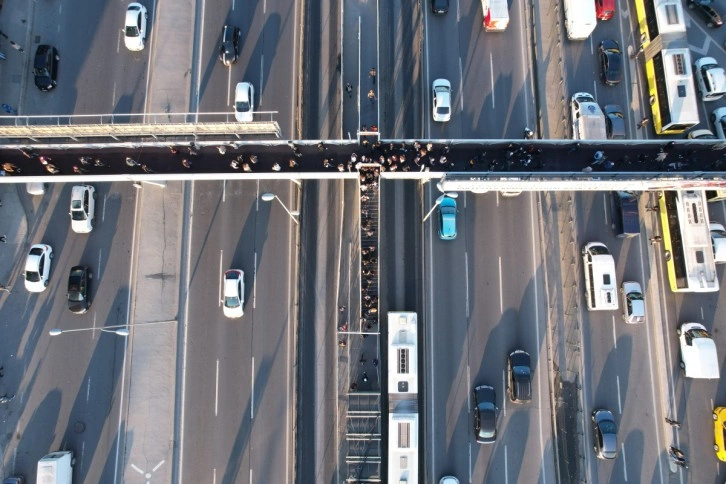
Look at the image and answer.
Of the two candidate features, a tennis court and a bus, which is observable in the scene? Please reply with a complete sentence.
Of the two, only a bus appears.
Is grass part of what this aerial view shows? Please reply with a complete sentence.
No, there is no grass in the image.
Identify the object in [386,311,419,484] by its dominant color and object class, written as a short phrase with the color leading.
white bus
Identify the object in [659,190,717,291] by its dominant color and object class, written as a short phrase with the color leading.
white bus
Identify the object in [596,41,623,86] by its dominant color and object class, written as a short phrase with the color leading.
black car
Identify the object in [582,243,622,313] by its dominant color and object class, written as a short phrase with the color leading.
white vehicle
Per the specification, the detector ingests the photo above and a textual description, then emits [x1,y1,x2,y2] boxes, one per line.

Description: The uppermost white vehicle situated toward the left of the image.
[121,4,148,51]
